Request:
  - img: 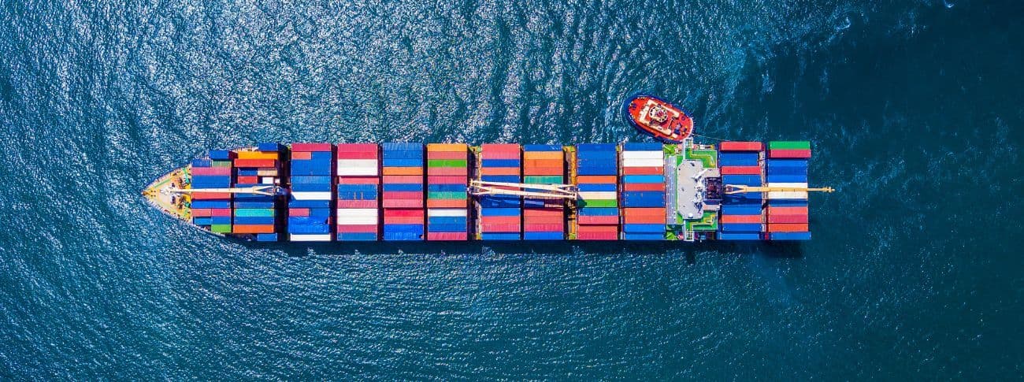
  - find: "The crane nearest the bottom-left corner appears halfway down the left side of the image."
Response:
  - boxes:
[163,184,292,198]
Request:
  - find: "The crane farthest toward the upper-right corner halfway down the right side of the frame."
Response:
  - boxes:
[722,182,833,195]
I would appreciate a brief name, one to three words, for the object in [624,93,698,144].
boat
